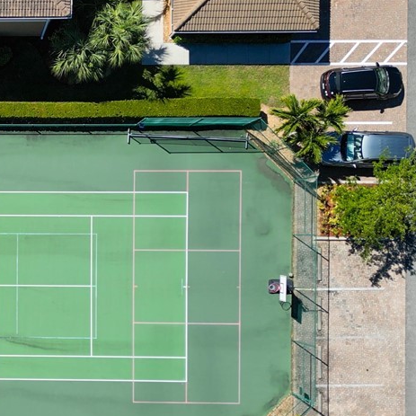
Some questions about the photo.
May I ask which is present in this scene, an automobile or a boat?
automobile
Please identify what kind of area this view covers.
sports ground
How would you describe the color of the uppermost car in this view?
black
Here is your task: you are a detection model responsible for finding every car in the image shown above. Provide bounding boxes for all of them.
[315,62,401,105]
[317,127,416,171]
